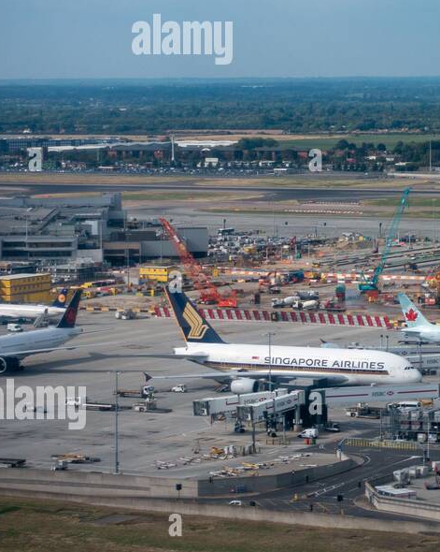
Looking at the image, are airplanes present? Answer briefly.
Yes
